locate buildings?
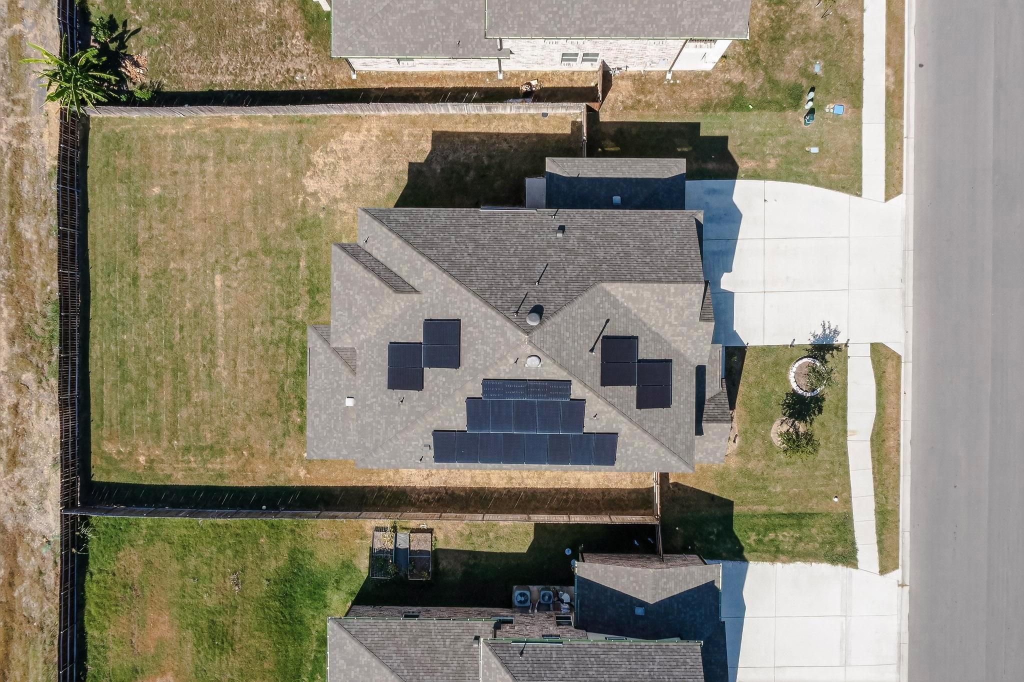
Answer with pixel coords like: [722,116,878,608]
[317,0,753,76]
[304,156,731,473]
[324,548,728,682]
